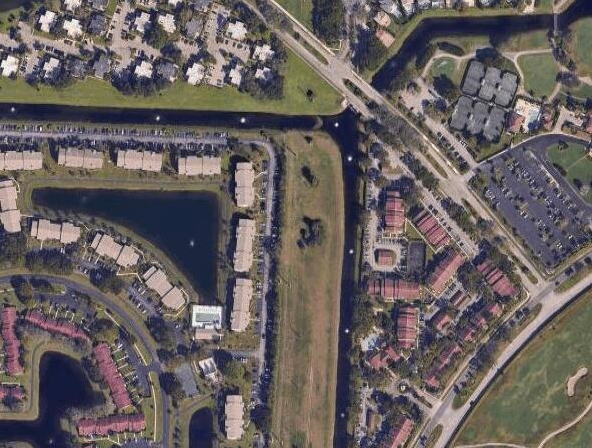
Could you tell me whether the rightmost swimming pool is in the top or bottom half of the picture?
top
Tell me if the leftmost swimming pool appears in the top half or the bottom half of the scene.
bottom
